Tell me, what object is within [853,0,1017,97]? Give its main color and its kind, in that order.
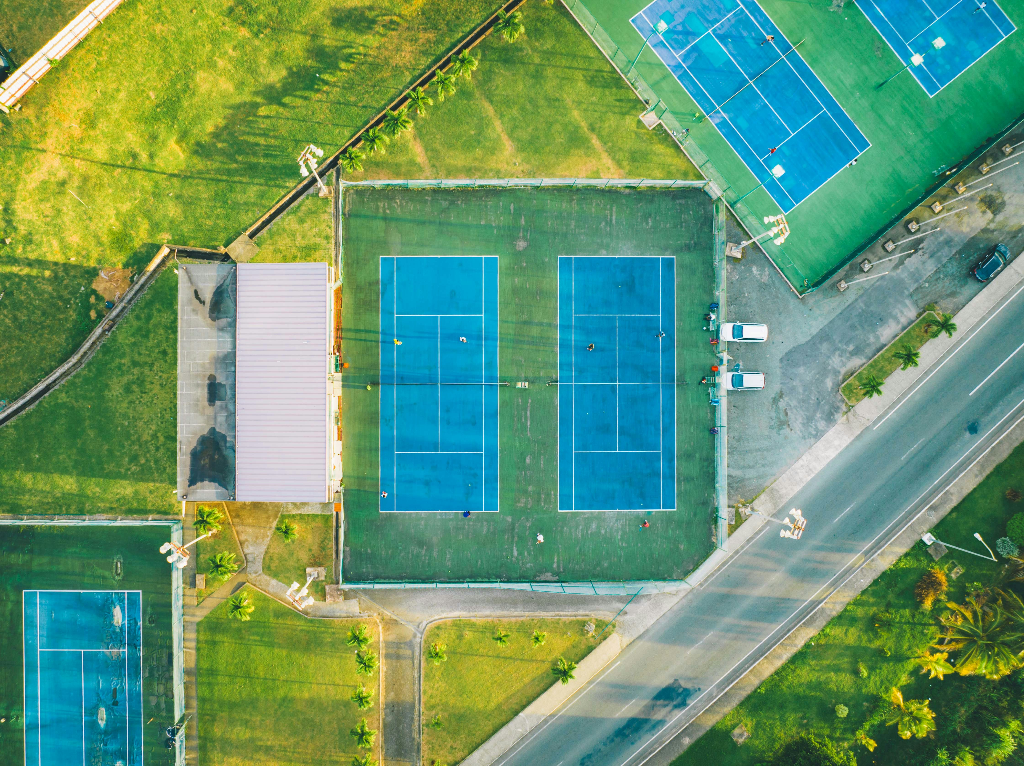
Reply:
blue tennis court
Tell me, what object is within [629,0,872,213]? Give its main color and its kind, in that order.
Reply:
blue tennis court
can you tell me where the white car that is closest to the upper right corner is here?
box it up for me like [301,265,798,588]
[718,320,768,344]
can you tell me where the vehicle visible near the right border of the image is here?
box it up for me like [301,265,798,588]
[967,239,1011,286]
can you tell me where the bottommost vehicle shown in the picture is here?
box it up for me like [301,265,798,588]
[720,369,767,393]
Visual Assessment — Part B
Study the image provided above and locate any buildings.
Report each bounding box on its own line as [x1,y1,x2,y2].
[173,262,334,515]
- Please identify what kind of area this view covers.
sports ground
